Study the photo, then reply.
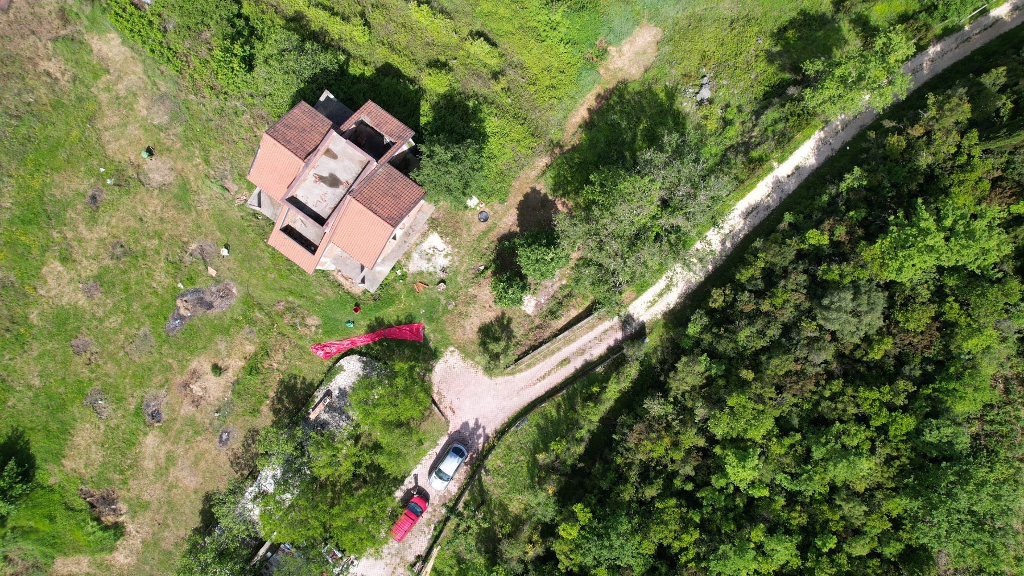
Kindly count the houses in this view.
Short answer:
1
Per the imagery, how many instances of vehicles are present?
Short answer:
2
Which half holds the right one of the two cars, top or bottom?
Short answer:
bottom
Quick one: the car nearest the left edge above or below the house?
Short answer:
below it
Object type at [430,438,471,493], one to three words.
car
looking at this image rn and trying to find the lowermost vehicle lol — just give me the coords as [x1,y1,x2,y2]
[386,488,431,546]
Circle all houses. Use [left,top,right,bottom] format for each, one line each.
[233,90,442,294]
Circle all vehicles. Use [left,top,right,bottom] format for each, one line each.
[386,488,431,546]
[430,438,471,493]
